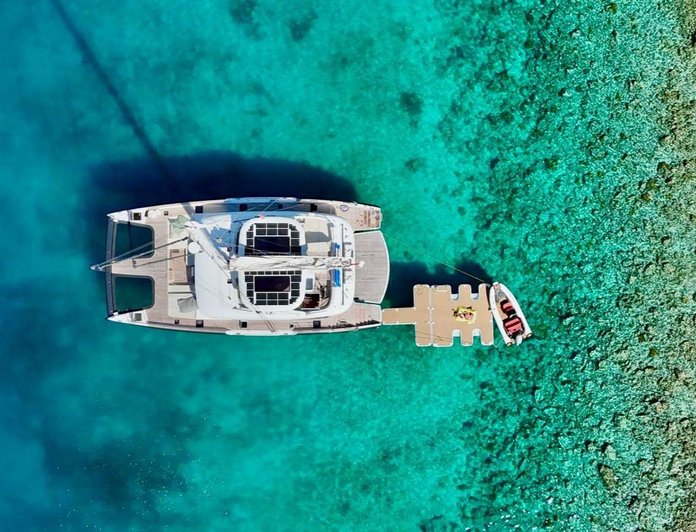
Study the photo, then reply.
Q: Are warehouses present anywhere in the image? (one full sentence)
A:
No, no warehouse is visible in the view.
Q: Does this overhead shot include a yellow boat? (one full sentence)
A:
No, I find no yellow boat anywhere in the image.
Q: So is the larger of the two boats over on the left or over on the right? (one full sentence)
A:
The larger of the two boats appears in the left half of the scene.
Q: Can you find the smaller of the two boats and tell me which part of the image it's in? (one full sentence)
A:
The smaller of the two boats is located in the right region of the scene.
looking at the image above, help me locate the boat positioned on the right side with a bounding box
[490,282,534,349]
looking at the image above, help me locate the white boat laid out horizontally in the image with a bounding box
[92,196,389,335]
